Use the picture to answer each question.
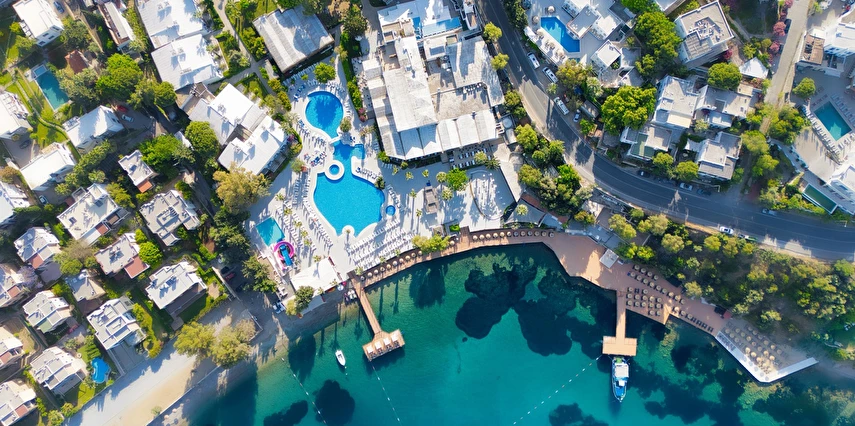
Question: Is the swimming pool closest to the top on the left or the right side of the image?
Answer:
right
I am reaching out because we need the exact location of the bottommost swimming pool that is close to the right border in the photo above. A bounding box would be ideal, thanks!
[797,179,841,216]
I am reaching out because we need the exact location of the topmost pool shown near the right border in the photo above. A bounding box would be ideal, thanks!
[808,94,855,147]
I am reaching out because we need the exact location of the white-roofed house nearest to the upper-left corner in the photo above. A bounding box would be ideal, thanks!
[12,0,70,43]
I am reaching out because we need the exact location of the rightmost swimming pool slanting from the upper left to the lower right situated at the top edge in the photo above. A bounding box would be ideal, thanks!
[536,12,584,57]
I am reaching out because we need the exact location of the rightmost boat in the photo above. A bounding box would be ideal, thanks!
[611,356,628,404]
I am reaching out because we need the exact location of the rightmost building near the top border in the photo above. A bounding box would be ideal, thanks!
[795,3,855,70]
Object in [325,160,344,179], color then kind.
white swimming pool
